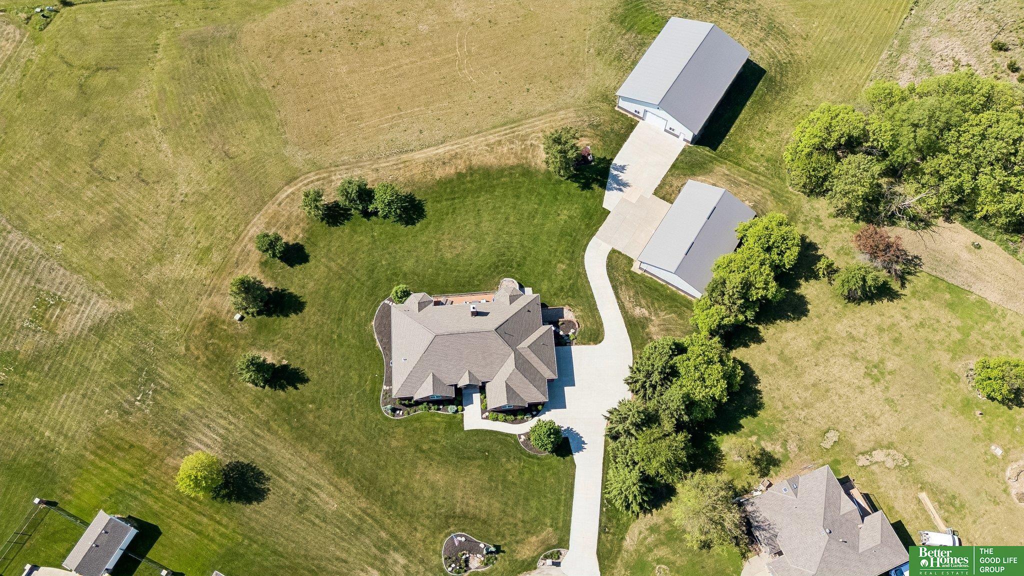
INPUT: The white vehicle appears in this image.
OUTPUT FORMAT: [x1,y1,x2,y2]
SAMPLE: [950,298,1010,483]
[917,531,959,557]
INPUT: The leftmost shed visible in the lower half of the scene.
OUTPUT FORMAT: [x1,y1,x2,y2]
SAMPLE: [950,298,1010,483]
[61,509,137,576]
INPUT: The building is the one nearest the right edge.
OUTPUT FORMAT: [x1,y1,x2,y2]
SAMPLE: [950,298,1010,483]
[742,464,910,576]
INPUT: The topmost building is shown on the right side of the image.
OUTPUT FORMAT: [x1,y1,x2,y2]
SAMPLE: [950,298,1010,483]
[615,16,749,144]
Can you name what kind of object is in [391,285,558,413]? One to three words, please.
house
